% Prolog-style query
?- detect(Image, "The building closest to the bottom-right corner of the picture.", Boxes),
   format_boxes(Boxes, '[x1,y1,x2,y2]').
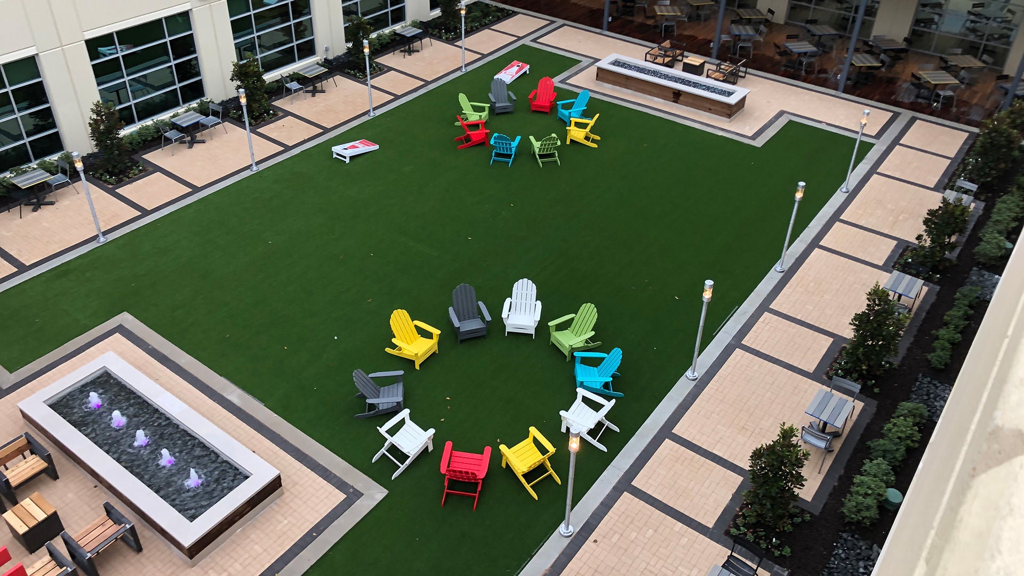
[875,224,1024,576]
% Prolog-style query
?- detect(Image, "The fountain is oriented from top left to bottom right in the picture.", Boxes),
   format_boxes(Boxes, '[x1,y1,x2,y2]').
[20,350,283,569]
